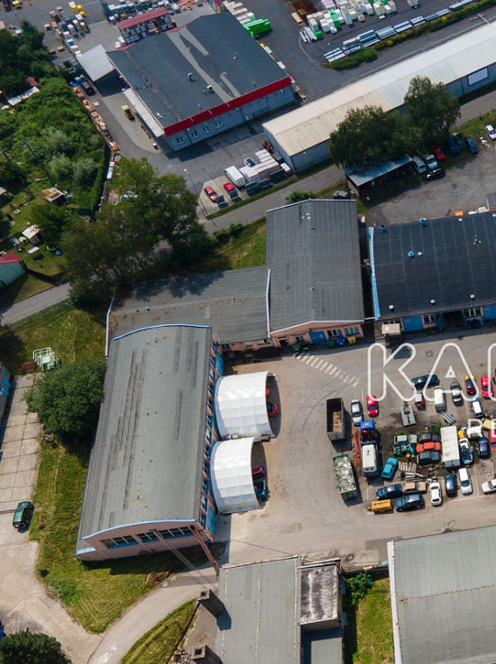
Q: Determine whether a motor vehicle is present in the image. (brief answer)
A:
Yes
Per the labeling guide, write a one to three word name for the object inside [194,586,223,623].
chimney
